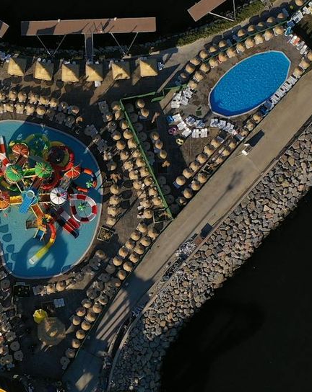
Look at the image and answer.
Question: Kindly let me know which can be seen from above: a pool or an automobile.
pool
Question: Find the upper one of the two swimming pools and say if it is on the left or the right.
right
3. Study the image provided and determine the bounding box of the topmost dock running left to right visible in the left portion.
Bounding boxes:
[21,16,157,57]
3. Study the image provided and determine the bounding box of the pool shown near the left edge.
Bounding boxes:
[0,120,103,277]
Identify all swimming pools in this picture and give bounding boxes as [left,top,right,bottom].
[0,120,103,277]
[206,47,295,120]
